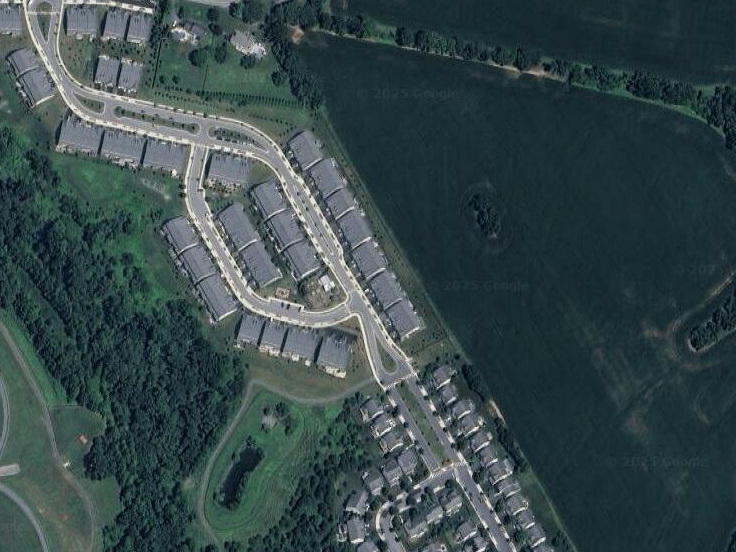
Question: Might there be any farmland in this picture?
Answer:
Yes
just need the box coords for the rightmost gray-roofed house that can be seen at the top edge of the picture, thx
[228,27,253,51]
